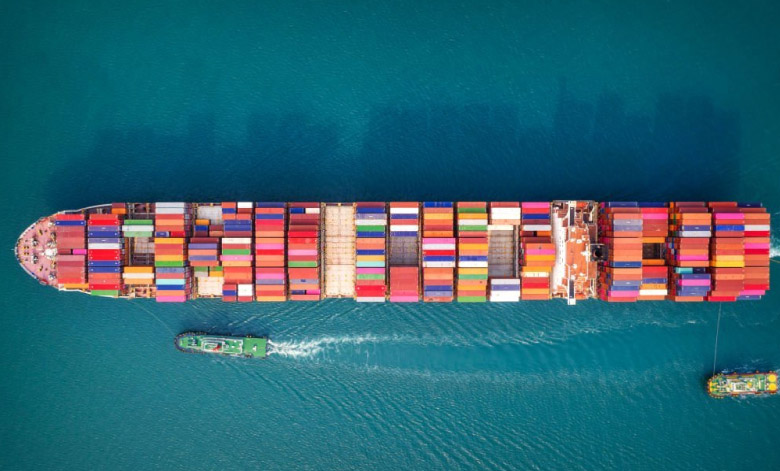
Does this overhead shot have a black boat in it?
No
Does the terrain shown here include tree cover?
No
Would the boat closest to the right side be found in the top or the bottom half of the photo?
bottom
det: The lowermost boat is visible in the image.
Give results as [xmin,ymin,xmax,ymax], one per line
[708,372,780,397]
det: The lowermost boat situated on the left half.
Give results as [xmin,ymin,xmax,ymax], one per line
[174,332,267,358]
